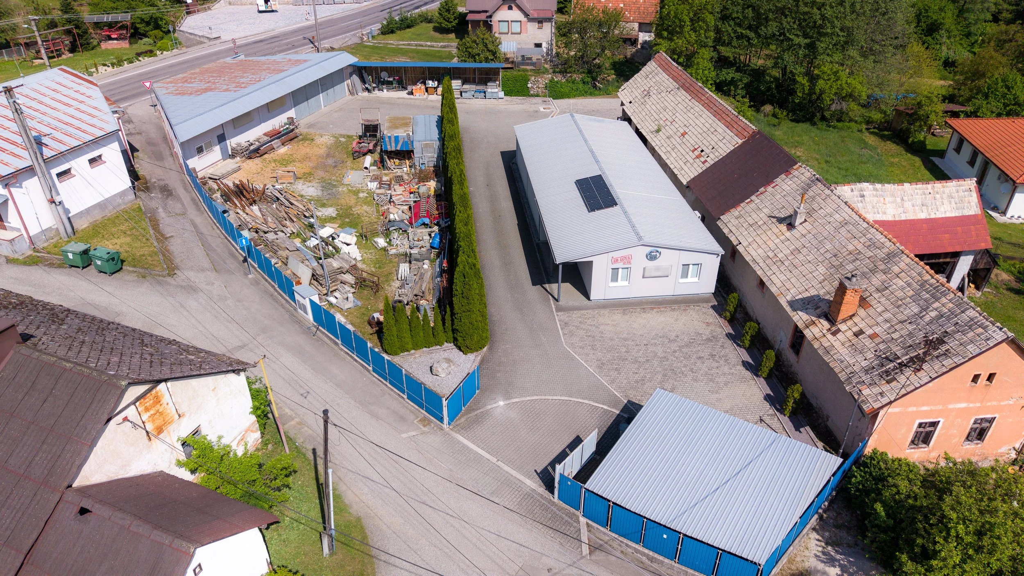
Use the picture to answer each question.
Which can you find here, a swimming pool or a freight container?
freight container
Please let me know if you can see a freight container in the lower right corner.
No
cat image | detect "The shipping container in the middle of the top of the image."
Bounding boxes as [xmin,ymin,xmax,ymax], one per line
[414,110,441,164]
